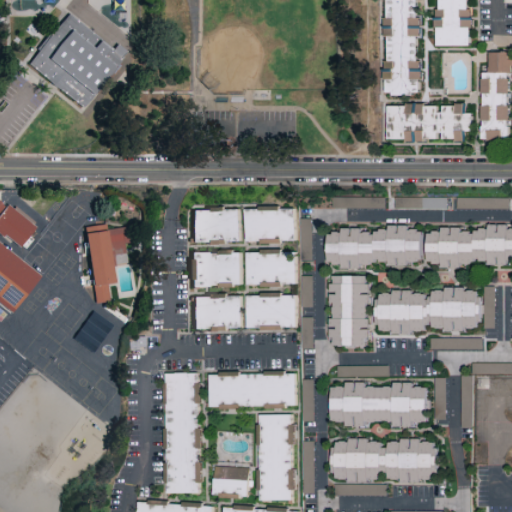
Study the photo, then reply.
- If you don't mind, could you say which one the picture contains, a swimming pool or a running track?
swimming pool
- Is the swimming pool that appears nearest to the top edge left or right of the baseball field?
right of it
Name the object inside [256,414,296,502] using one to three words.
building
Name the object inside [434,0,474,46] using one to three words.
building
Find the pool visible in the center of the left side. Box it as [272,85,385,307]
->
[116,264,136,298]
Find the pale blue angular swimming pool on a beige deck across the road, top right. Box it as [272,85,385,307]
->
[443,52,472,94]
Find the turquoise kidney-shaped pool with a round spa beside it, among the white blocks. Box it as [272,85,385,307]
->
[217,432,254,462]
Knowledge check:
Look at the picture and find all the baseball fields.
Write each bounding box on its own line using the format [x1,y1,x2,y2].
[196,0,334,92]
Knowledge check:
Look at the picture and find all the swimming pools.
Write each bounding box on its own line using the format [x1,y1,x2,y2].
[217,432,254,462]
[116,264,136,298]
[443,52,472,94]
